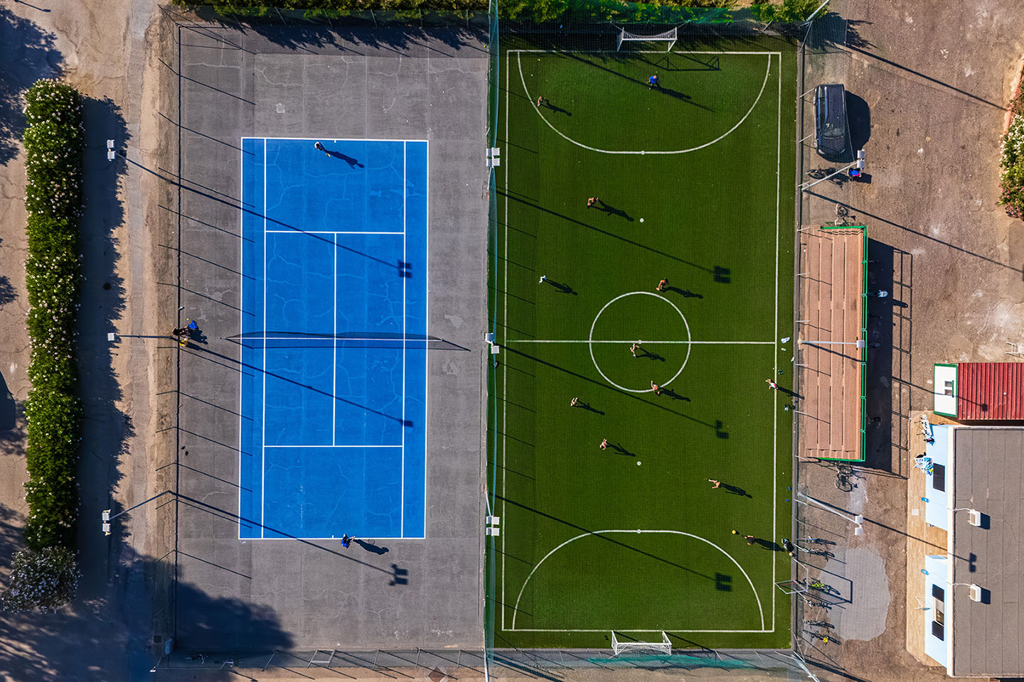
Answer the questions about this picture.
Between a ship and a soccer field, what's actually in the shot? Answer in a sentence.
Looking from above, you can make out a soccer field.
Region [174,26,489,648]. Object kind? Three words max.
tennis court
